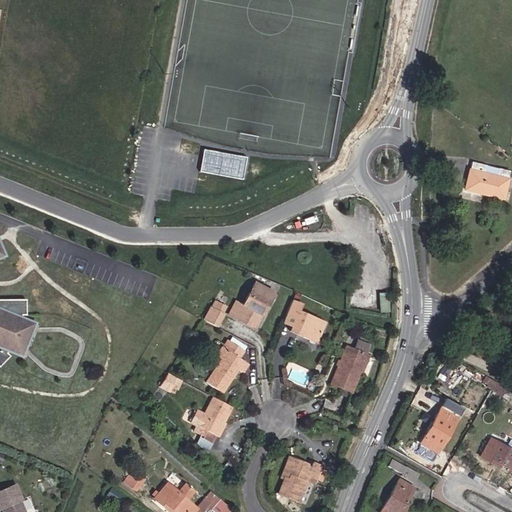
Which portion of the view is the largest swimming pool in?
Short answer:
bottom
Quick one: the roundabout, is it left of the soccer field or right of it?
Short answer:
right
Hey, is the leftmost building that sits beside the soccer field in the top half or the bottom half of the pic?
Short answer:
top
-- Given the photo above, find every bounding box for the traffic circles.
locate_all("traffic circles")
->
[354,130,418,198]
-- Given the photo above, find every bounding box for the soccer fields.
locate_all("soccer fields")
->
[165,0,356,160]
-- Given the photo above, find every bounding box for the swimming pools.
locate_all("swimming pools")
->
[483,412,495,424]
[286,362,309,388]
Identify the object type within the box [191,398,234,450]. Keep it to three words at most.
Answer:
house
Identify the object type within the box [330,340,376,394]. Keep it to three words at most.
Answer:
house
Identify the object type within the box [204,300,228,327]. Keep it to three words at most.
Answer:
building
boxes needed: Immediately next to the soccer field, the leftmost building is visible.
[200,149,248,180]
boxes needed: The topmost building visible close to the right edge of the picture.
[464,162,512,202]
